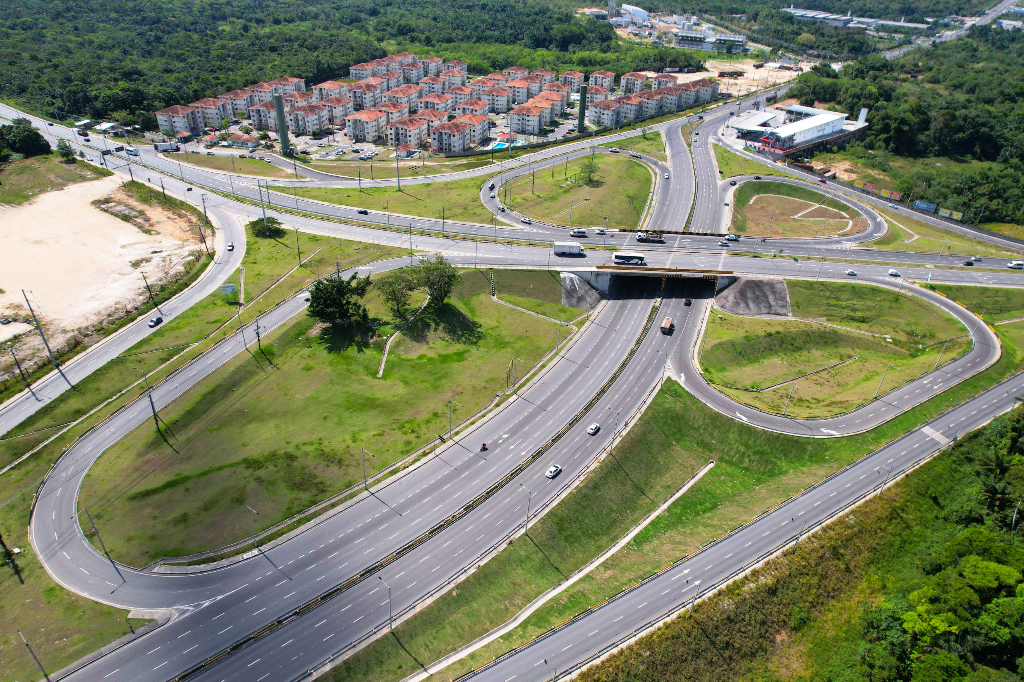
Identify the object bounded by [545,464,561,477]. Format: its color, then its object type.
white vehicle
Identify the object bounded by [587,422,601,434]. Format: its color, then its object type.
white vehicle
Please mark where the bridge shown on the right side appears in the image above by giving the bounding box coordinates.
[554,229,791,316]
